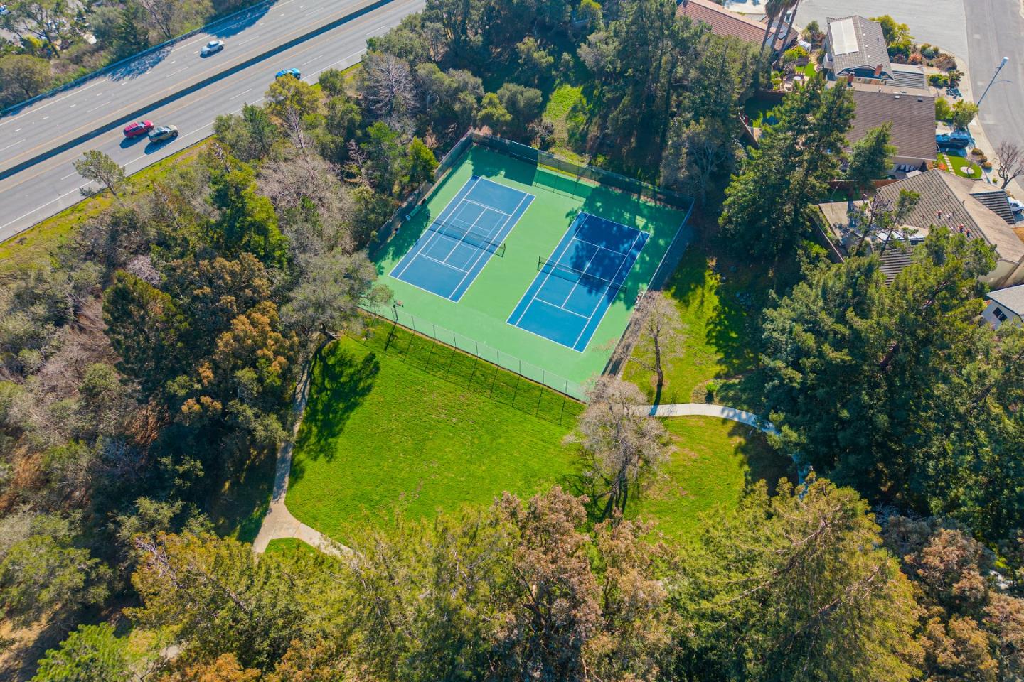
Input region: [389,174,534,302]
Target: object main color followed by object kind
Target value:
blue tennis court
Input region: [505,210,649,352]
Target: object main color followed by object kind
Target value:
blue tennis court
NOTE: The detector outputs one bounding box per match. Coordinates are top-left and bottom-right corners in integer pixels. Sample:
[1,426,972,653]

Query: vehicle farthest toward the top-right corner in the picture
[936,133,971,149]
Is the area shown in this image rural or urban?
rural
